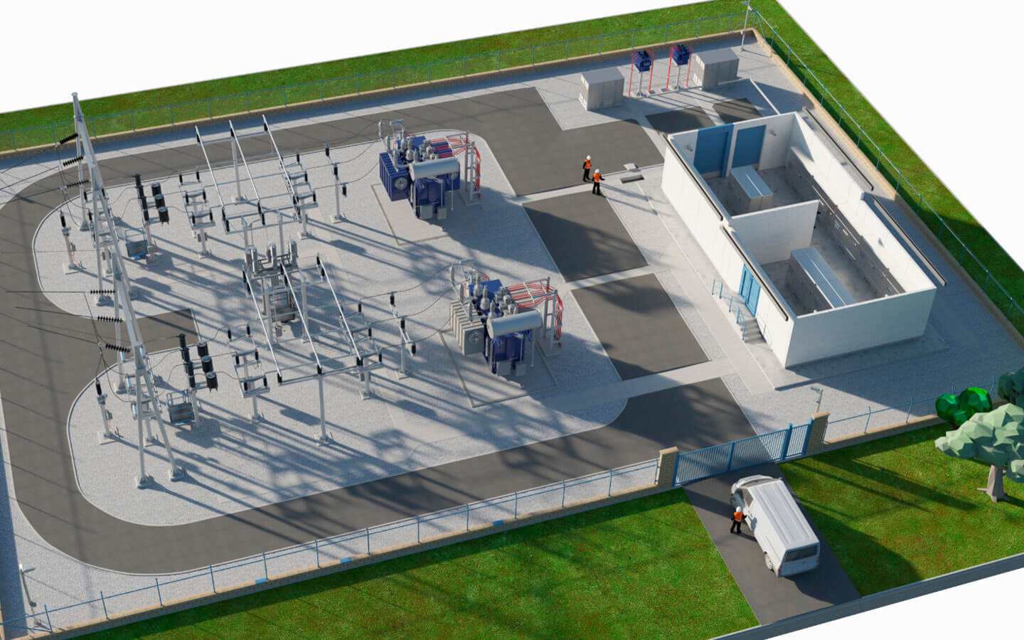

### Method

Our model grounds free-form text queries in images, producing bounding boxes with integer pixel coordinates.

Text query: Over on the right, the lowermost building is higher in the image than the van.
[660,109,950,368]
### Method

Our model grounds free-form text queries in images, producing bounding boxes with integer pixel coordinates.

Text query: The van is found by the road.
[732,476,818,575]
